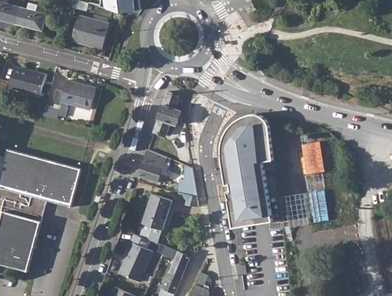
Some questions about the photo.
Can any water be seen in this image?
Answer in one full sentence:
No, there's no water in this view.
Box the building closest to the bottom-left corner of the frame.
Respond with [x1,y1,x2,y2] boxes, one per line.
[0,213,42,272]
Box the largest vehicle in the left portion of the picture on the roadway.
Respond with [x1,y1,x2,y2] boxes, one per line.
[129,121,144,152]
